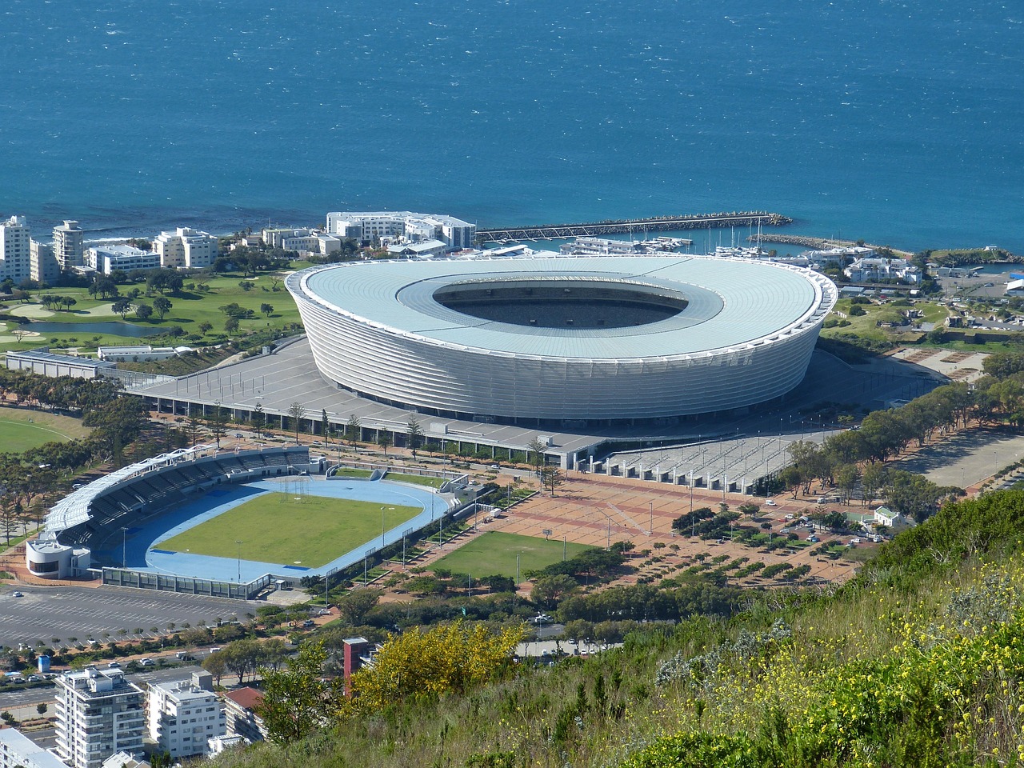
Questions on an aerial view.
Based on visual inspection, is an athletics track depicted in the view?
Yes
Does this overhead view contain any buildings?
Yes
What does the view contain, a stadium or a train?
stadium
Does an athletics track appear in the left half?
Yes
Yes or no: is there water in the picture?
Yes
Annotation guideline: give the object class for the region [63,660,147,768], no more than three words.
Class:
building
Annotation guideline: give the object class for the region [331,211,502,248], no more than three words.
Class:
building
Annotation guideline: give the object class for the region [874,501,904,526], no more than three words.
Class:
house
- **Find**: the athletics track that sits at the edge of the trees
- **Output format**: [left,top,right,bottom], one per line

[94,477,459,589]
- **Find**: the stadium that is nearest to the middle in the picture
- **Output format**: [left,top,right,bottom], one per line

[284,254,839,429]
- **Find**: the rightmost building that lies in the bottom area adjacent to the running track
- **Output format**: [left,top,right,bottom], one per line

[454,484,481,501]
